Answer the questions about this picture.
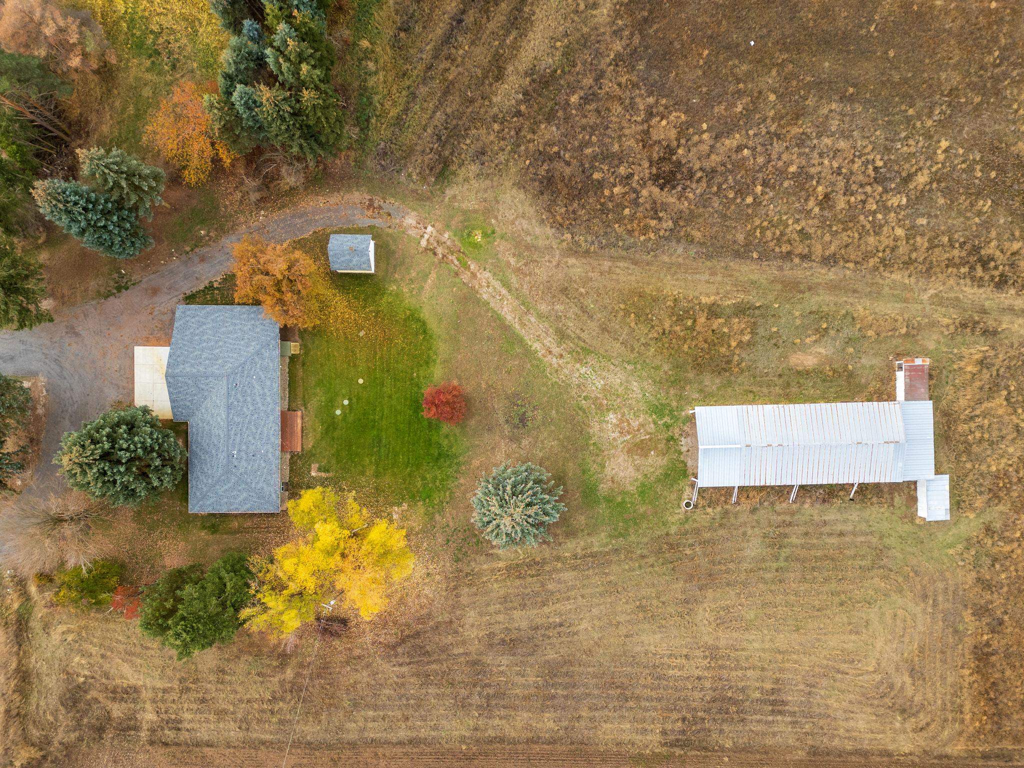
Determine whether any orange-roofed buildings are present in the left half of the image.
No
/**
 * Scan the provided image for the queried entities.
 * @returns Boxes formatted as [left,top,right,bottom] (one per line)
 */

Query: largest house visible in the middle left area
[165,305,281,514]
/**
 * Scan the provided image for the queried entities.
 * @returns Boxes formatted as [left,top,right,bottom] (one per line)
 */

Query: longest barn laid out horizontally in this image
[688,402,910,503]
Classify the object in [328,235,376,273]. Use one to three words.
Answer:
shed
